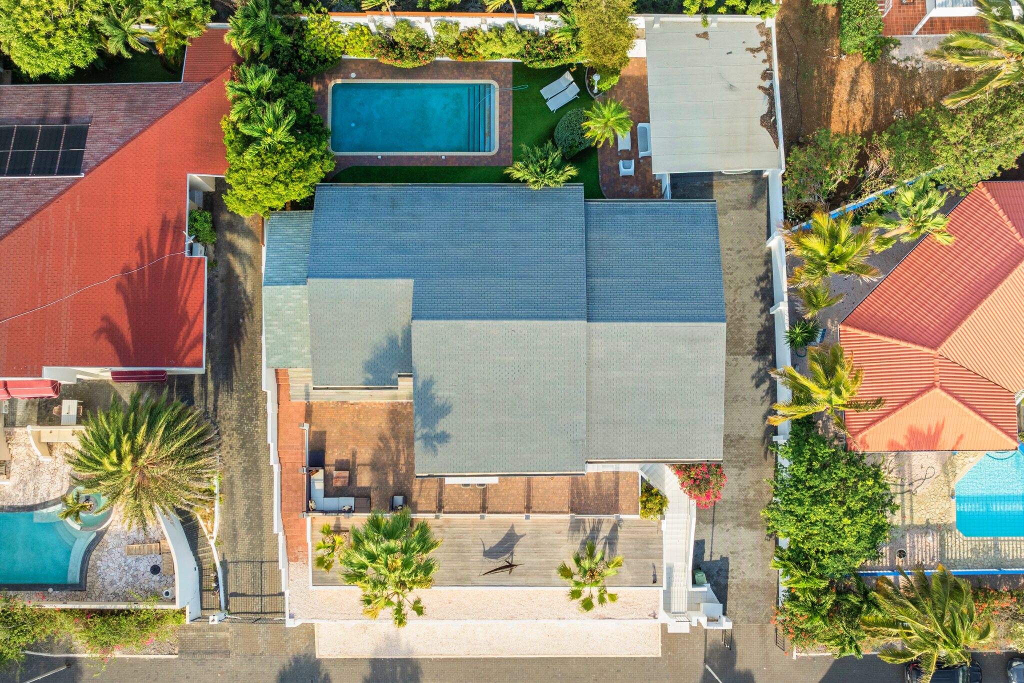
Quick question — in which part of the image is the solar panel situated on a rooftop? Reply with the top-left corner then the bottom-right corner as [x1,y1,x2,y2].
[0,123,91,176]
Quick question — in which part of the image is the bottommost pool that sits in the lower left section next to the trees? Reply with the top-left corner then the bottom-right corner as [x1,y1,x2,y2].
[0,492,109,591]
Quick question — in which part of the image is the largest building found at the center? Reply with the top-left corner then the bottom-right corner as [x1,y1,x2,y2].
[262,181,726,479]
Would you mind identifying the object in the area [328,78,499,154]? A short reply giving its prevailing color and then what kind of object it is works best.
blue swimming pool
